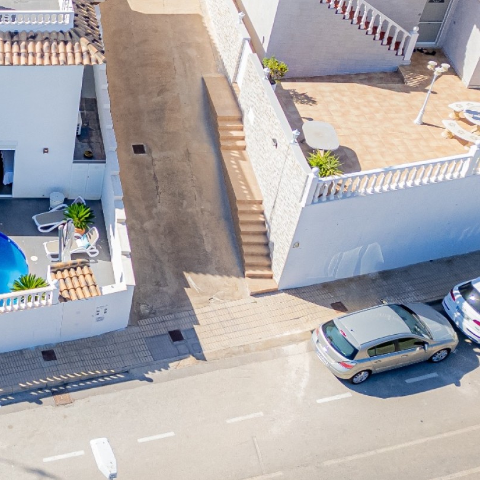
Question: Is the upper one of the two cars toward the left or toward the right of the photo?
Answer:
right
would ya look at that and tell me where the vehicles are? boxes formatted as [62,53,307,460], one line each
[303,292,464,384]
[438,270,480,338]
